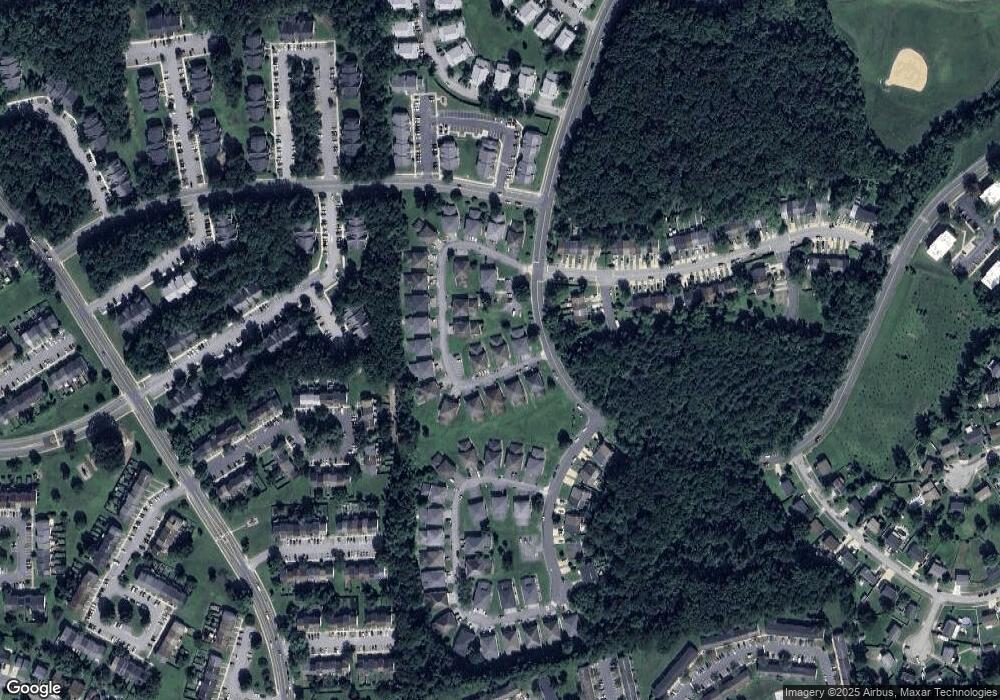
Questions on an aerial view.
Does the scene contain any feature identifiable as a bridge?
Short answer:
No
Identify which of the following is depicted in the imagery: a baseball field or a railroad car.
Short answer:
baseball field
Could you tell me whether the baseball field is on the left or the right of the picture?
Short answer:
right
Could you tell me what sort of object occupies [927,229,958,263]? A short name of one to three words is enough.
building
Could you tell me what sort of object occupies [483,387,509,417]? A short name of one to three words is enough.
house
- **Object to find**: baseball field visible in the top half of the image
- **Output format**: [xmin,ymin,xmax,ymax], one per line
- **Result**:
[876,40,940,103]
